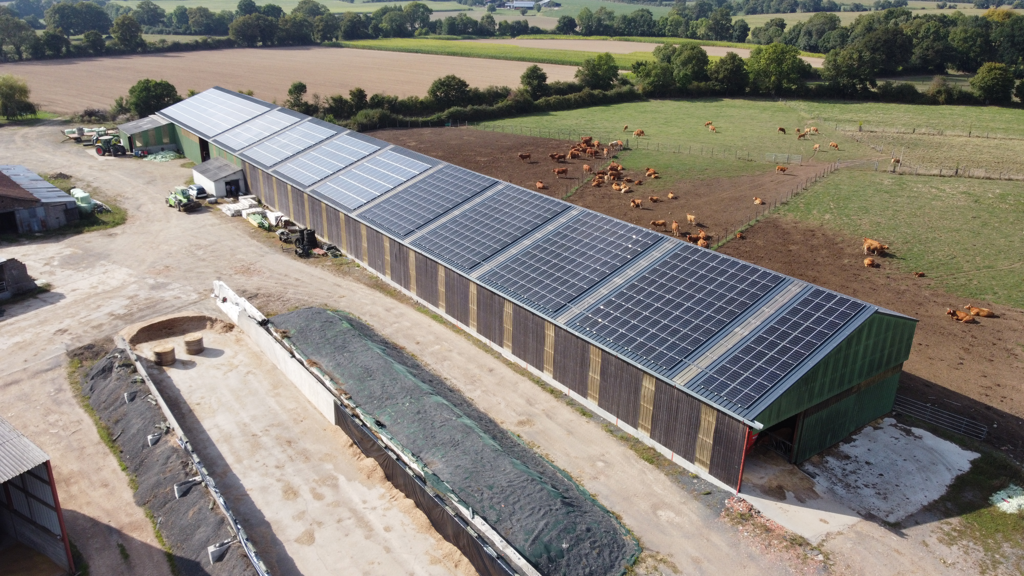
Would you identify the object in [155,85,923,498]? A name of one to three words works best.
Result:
barn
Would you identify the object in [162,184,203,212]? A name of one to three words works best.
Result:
work vehicle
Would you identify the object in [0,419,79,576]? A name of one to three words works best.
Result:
shed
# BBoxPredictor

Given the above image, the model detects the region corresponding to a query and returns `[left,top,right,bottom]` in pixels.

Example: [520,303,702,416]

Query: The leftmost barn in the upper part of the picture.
[0,166,86,235]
